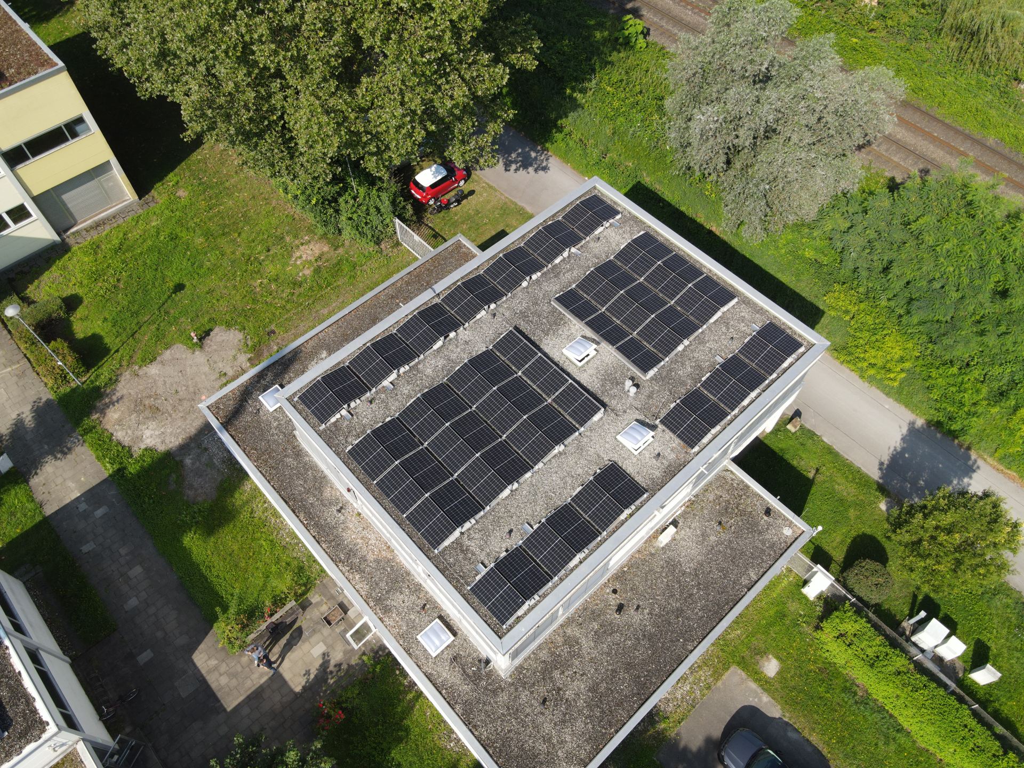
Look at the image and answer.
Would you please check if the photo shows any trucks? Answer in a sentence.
No, I find no truck anywhere in the image.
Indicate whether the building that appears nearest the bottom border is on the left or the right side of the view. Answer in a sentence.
You can find the building that appears nearest the bottom border on the left side of the picture.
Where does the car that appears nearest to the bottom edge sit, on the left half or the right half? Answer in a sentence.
The car that appears nearest to the bottom edge sits on the right side.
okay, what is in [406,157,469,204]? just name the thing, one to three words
car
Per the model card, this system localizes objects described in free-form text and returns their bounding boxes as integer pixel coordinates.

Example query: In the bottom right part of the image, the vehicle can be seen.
[718,724,796,768]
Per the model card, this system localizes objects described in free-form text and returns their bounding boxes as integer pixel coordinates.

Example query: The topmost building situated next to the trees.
[0,0,141,272]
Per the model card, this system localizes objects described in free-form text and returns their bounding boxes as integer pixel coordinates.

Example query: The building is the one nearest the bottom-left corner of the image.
[0,565,131,768]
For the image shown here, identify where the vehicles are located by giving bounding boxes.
[718,724,796,768]
[428,188,461,215]
[406,157,469,204]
